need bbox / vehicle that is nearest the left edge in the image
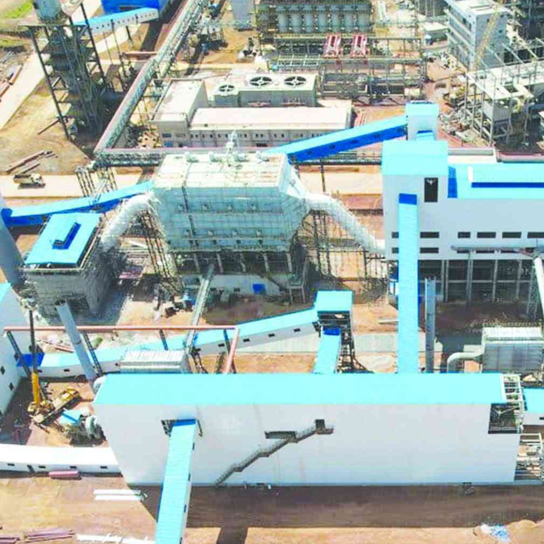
[12,177,42,190]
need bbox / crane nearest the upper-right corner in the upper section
[464,0,503,77]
